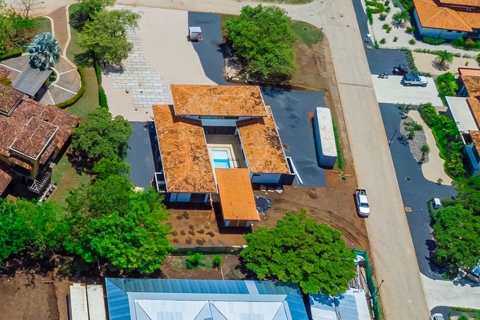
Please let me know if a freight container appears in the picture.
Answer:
Yes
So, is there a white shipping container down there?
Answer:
Yes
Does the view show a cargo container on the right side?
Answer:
Yes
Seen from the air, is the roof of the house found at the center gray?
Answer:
No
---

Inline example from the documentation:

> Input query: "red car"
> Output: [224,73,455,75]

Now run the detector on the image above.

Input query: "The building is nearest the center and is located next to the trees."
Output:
[152,84,289,206]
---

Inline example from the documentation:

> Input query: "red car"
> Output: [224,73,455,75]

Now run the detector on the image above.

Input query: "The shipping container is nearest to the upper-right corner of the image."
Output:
[311,107,337,168]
